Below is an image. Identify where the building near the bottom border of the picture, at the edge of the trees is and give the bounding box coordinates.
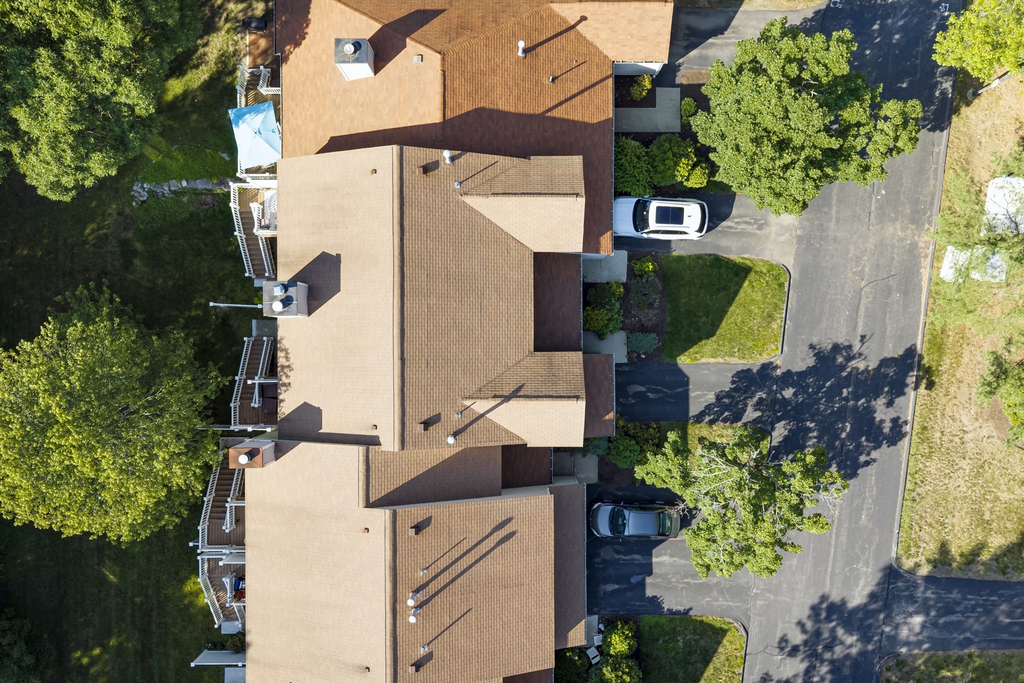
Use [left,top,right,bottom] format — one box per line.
[229,431,588,683]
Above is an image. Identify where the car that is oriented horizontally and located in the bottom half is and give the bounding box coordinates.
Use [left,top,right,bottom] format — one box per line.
[590,501,680,543]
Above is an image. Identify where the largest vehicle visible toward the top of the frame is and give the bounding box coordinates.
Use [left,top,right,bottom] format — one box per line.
[616,193,709,241]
